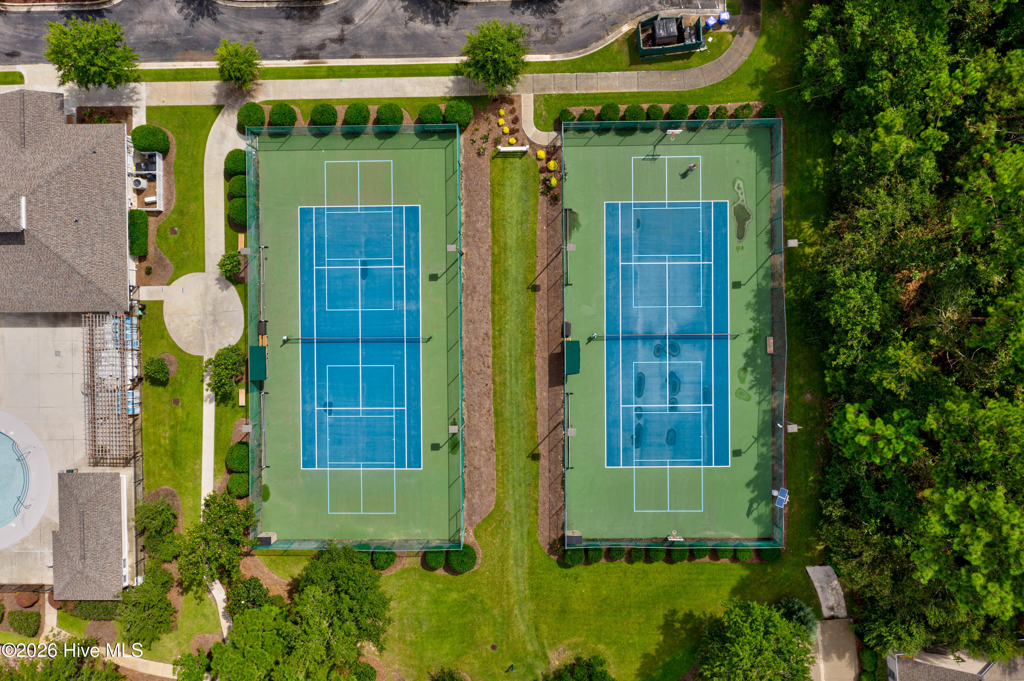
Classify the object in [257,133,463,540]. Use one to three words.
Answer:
tennis court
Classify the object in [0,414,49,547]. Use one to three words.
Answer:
swimming pool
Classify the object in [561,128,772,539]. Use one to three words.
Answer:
tennis court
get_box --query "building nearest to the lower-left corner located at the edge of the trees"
[51,472,131,601]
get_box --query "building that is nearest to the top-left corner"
[0,88,139,313]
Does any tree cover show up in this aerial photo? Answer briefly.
Yes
